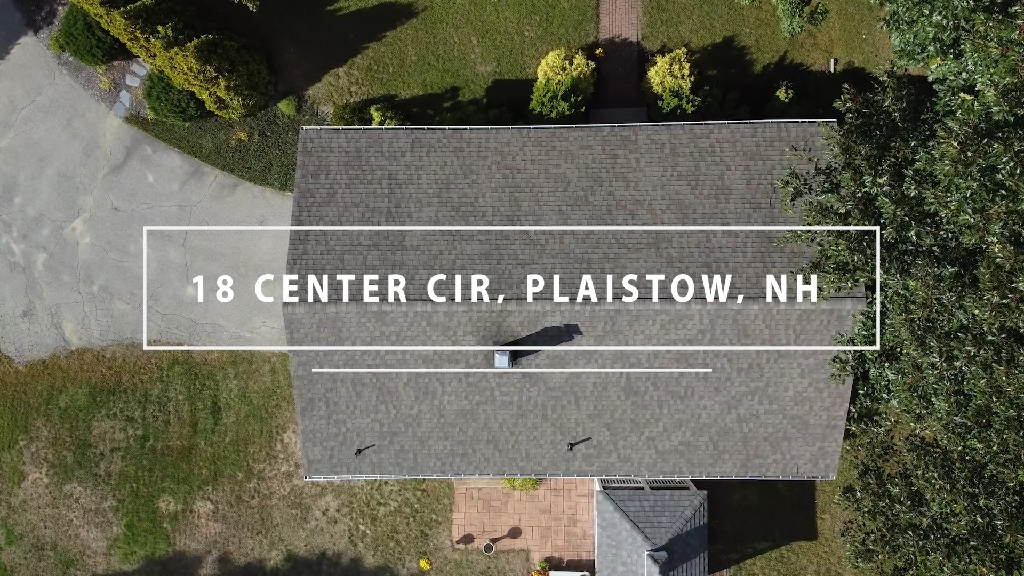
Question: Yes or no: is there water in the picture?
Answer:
No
